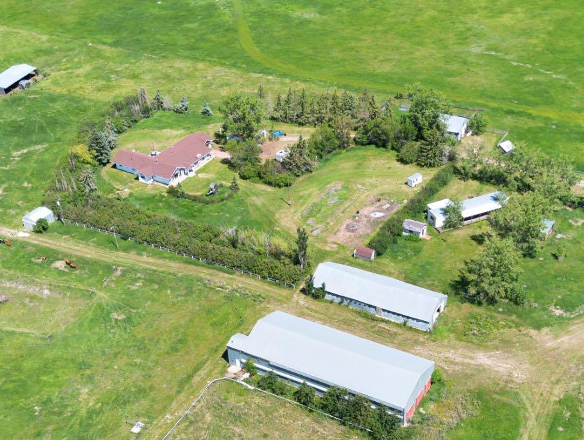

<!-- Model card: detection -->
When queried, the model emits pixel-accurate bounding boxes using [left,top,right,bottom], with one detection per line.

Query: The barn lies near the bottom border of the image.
[227,310,434,423]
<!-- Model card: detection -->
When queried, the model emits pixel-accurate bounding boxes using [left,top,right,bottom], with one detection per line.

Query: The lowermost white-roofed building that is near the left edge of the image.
[21,207,54,231]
